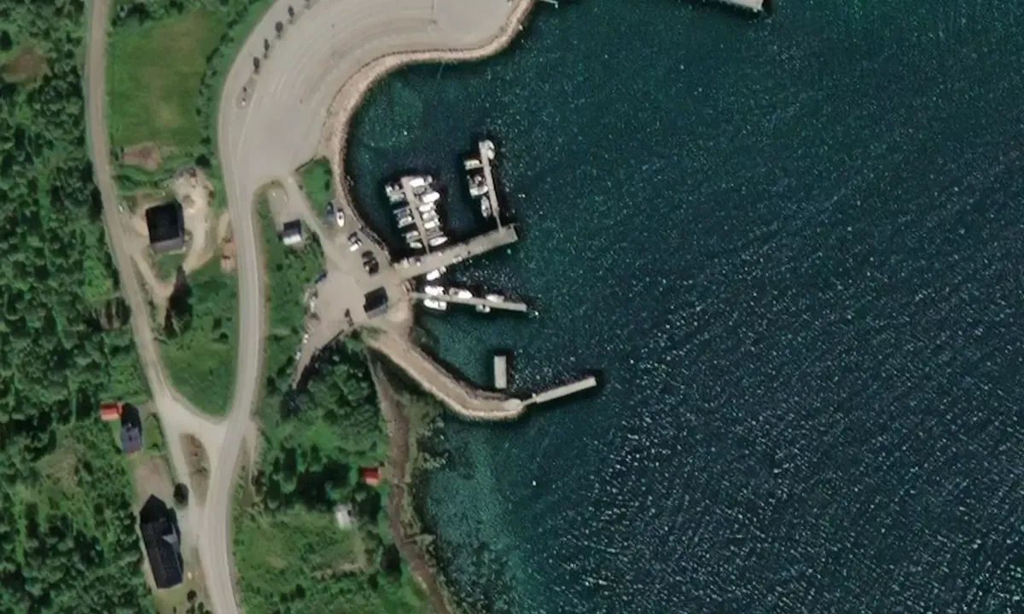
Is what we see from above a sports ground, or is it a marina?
marina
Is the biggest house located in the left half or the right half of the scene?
left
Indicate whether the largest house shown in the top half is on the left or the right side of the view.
left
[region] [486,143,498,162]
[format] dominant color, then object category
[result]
white boat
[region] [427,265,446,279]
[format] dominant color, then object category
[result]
white boat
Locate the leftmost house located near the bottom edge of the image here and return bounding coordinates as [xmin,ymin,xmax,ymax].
[138,519,183,592]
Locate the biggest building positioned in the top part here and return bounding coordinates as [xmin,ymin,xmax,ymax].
[144,215,182,253]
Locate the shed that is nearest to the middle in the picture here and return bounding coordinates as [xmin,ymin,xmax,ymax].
[363,297,388,318]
